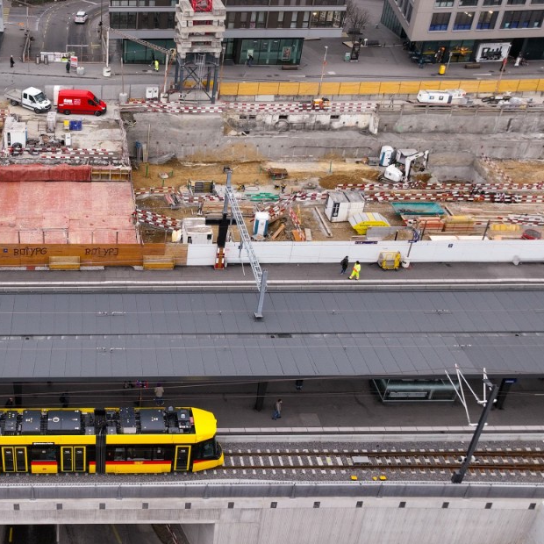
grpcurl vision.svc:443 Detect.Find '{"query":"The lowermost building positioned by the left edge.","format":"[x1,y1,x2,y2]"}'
[2,120,30,149]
